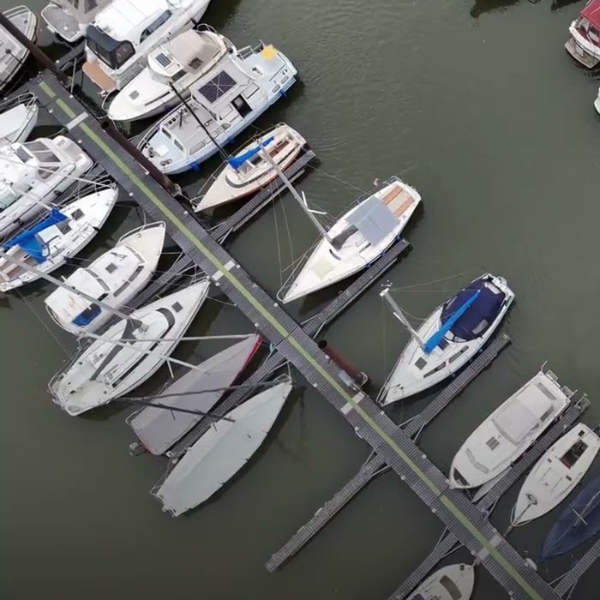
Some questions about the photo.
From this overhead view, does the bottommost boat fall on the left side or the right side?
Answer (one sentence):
The bottommost boat is on the right side of the image.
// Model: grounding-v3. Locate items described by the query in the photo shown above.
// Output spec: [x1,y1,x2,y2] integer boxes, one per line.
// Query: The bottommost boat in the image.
[403,560,480,600]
